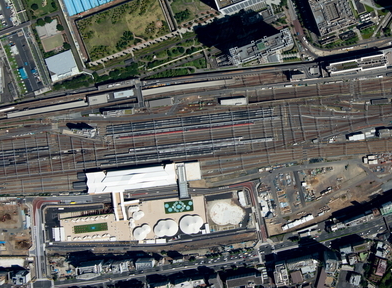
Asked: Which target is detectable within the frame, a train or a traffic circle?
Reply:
train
